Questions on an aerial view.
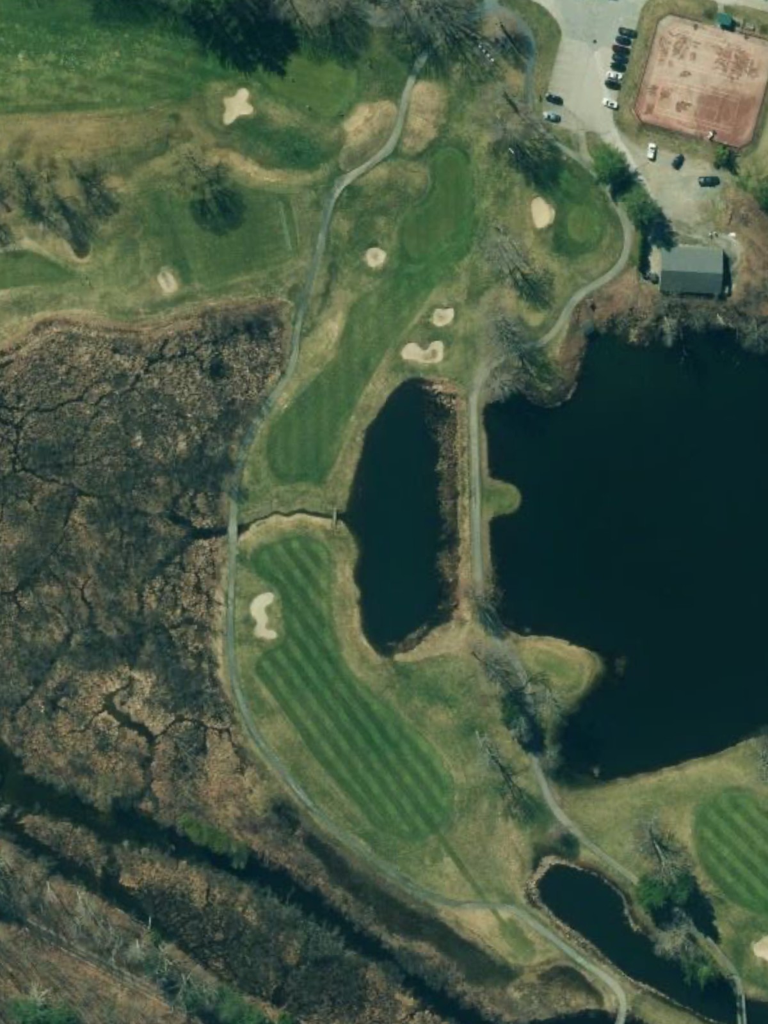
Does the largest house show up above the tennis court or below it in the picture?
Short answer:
below it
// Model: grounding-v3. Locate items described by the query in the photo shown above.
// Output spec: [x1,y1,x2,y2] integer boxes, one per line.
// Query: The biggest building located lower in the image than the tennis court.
[660,247,725,294]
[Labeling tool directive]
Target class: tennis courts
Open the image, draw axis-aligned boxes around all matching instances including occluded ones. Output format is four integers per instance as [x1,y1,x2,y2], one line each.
[635,15,768,147]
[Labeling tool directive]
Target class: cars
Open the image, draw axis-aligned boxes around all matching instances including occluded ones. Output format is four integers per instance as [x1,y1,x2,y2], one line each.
[606,71,623,80]
[649,142,656,159]
[544,112,560,121]
[612,44,630,54]
[613,53,629,62]
[700,177,719,185]
[605,79,621,88]
[546,94,563,104]
[619,27,637,37]
[610,61,627,70]
[602,98,618,107]
[673,153,683,168]
[615,36,632,45]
